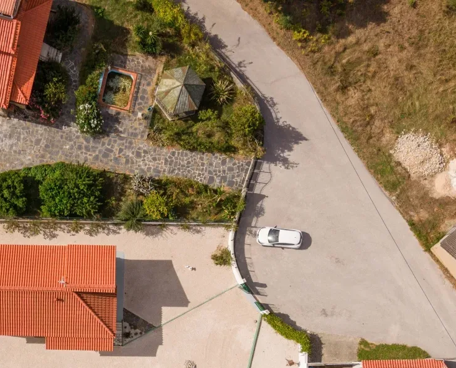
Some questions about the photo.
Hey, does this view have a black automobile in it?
No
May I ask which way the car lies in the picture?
from side to side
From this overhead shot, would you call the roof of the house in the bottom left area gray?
No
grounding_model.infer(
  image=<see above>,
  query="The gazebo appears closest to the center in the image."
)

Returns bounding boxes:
[153,67,205,124]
